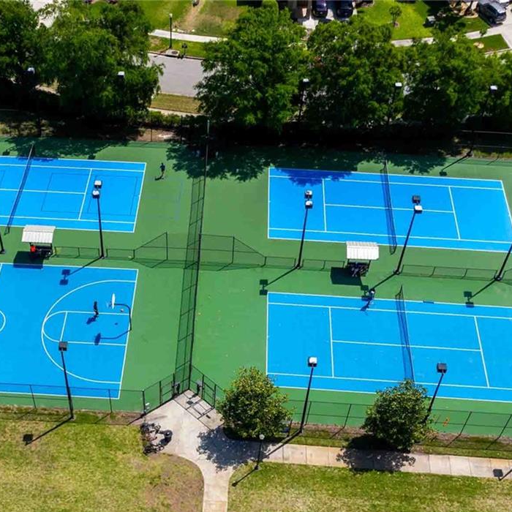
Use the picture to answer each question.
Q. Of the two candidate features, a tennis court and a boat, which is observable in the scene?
tennis court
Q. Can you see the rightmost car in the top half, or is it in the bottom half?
top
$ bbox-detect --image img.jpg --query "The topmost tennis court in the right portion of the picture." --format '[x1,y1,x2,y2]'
[201,145,512,280]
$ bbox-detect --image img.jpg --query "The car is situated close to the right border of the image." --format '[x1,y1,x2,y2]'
[478,0,512,25]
